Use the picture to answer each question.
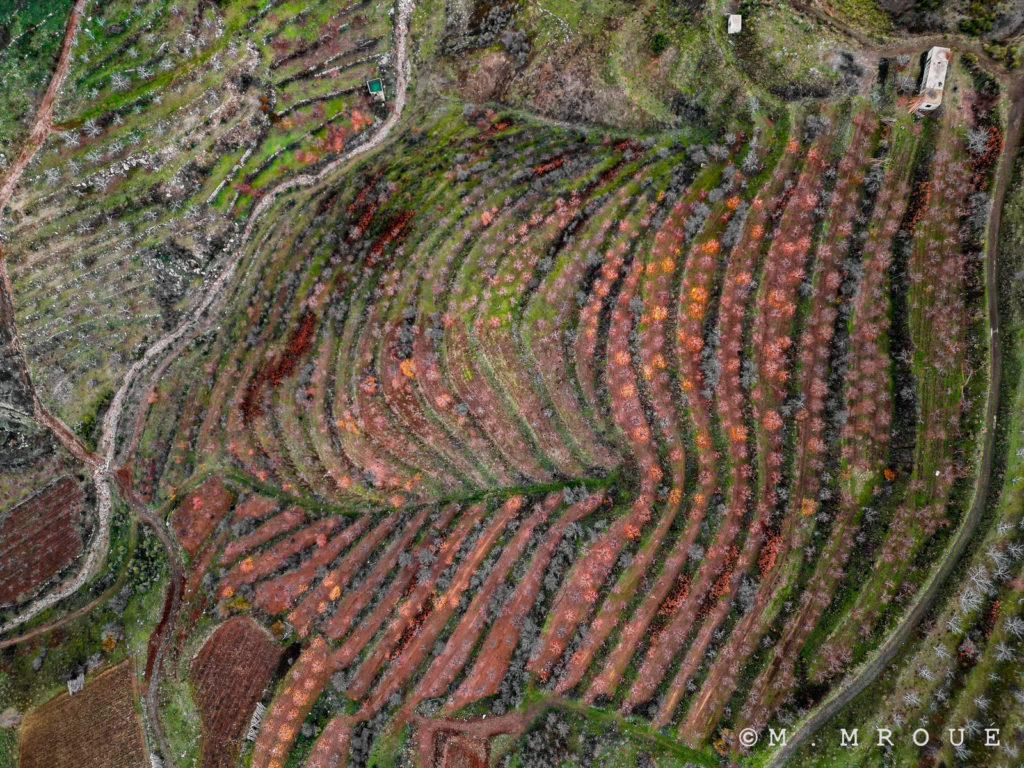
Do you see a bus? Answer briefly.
No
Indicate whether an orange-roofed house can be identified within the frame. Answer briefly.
No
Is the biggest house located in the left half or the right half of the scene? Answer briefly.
right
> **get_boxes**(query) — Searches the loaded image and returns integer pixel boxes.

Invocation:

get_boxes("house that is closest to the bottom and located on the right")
[915,46,951,110]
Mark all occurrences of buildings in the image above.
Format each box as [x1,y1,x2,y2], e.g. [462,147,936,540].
[915,46,951,110]
[727,14,742,33]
